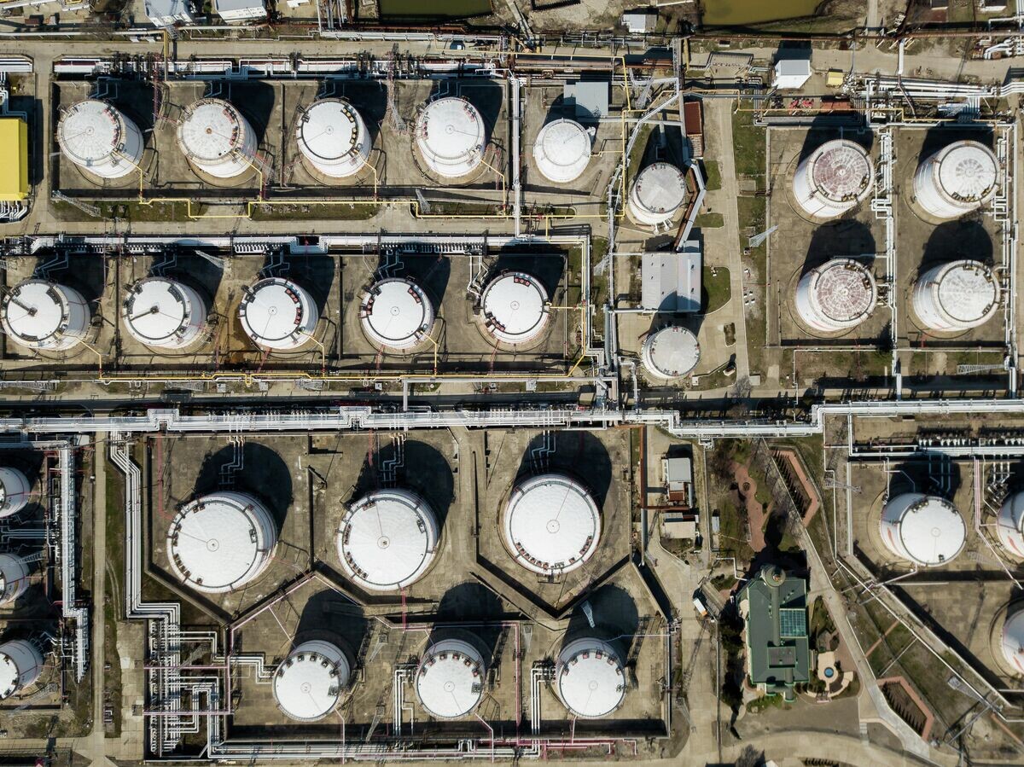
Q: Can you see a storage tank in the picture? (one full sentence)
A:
Yes, the image includes a storage tank.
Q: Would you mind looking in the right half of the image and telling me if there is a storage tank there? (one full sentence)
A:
Yes, I can see a storage tank in the right half of the image.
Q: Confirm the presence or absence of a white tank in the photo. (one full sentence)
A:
Yes, a white tank is visible in the scene.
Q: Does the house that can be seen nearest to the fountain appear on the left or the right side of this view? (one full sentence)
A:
The house that can be seen nearest to the fountain sits on the right side.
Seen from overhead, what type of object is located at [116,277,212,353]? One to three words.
storage tank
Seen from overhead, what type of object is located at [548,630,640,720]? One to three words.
storage tank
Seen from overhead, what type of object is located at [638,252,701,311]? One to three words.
building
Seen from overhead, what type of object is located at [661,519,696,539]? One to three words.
building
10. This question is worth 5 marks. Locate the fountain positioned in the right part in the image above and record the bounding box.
[818,653,838,688]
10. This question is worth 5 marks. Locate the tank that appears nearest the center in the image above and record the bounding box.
[468,272,552,347]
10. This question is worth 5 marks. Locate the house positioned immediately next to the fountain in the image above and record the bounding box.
[732,558,816,703]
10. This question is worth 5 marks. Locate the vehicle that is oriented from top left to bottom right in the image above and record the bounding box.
[692,599,709,617]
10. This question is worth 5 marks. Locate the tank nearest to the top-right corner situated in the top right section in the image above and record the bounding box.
[907,139,1003,224]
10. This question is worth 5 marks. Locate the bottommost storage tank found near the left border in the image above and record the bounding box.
[0,632,47,706]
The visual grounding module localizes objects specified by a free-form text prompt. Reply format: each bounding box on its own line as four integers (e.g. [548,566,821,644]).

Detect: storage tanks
[907,139,1003,224]
[789,257,881,336]
[0,548,34,613]
[548,630,640,720]
[497,466,602,589]
[624,160,688,228]
[0,460,34,524]
[273,629,365,720]
[116,277,212,353]
[233,277,323,354]
[993,486,1024,561]
[171,98,262,182]
[530,117,595,183]
[468,272,552,347]
[0,632,47,706]
[337,483,444,592]
[412,97,490,181]
[905,252,1002,338]
[787,140,876,222]
[53,98,149,183]
[637,325,702,383]
[292,97,377,181]
[874,486,970,567]
[0,279,96,355]
[356,278,440,355]
[413,631,498,721]
[166,486,282,595]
